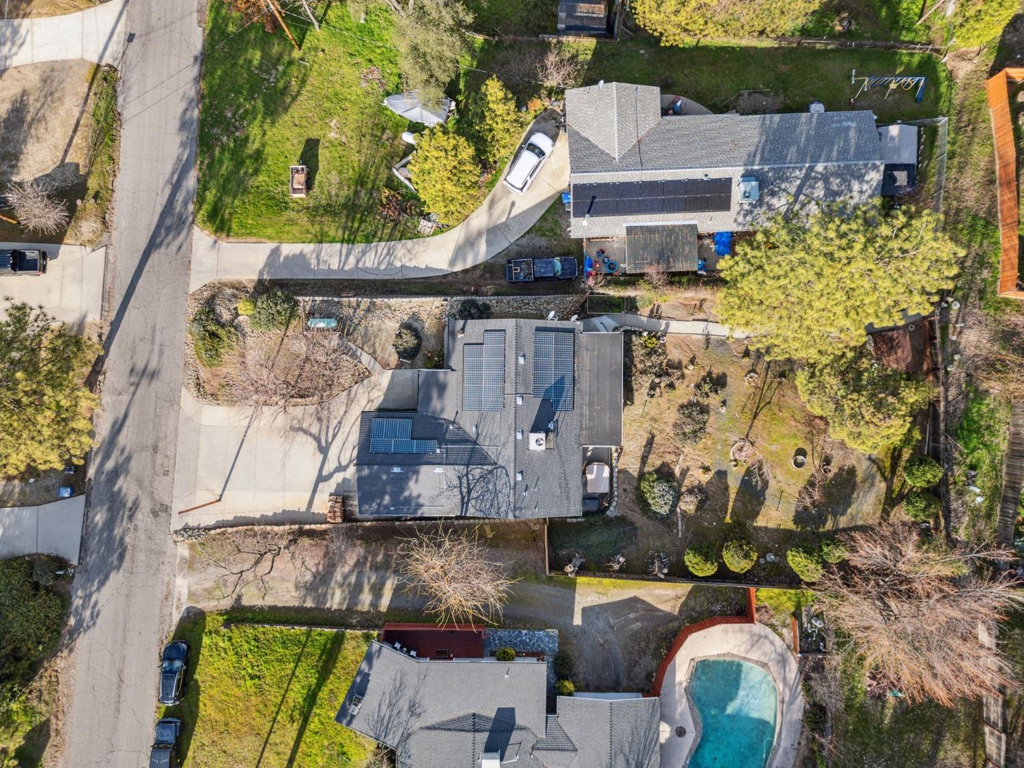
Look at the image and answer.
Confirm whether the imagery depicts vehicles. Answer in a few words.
Yes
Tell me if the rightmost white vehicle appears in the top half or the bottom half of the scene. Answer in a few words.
top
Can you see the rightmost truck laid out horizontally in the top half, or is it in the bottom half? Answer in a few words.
top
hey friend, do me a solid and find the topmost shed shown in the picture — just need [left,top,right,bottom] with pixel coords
[558,0,608,35]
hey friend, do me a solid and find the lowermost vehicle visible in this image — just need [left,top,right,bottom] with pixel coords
[148,715,188,768]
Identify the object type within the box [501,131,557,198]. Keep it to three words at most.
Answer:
vehicle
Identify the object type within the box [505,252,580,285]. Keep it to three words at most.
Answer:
truck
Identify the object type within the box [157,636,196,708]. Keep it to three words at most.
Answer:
car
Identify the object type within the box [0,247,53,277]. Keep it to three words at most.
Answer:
truck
